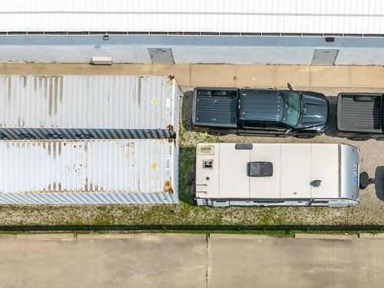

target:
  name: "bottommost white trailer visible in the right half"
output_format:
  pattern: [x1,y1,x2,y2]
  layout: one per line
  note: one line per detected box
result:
[192,142,380,208]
